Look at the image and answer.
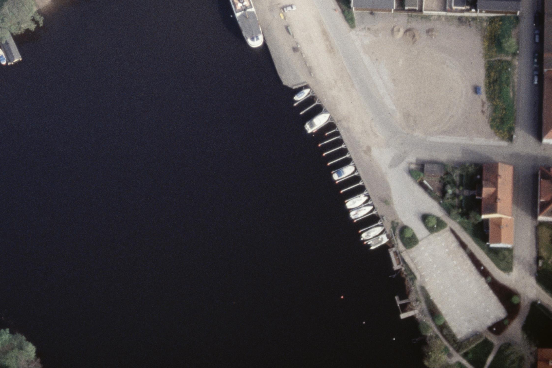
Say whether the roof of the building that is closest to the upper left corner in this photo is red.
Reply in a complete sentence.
No, from above the roof of the building that is closest to the upper left corner looks gray.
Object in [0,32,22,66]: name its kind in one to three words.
building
